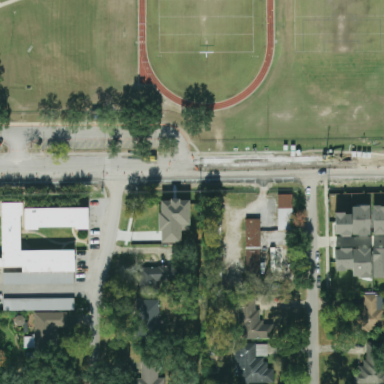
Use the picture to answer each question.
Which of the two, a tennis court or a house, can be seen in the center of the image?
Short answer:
house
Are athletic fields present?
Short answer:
Yes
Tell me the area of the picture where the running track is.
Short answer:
top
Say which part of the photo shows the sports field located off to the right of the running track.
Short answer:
top right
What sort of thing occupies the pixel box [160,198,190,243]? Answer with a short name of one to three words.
house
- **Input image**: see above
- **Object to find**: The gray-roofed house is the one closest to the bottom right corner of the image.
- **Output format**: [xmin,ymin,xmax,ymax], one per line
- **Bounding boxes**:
[357,338,384,384]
